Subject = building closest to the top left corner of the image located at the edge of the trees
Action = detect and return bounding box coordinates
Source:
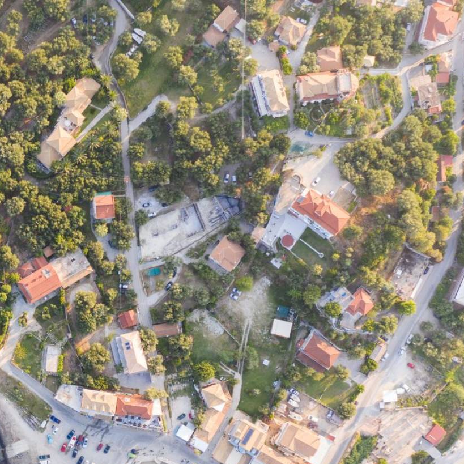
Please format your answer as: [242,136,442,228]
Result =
[34,76,101,167]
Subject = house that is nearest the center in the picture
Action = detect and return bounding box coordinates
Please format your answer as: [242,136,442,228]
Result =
[208,236,245,272]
